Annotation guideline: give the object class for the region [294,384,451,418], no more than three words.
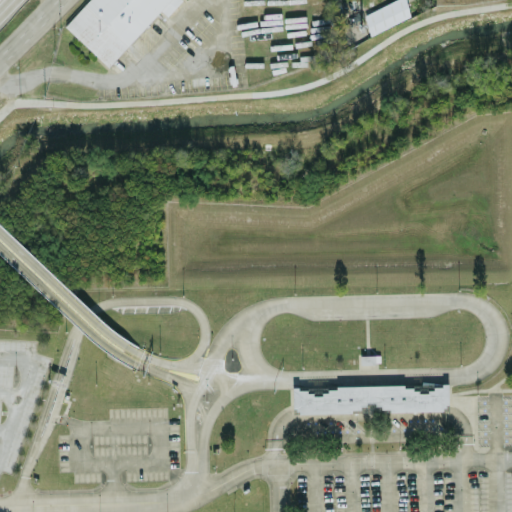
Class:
building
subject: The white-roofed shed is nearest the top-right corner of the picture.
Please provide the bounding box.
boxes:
[366,0,412,37]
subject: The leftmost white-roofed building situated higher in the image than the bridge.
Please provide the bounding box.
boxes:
[66,0,186,68]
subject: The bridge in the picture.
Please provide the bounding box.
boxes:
[0,228,156,373]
